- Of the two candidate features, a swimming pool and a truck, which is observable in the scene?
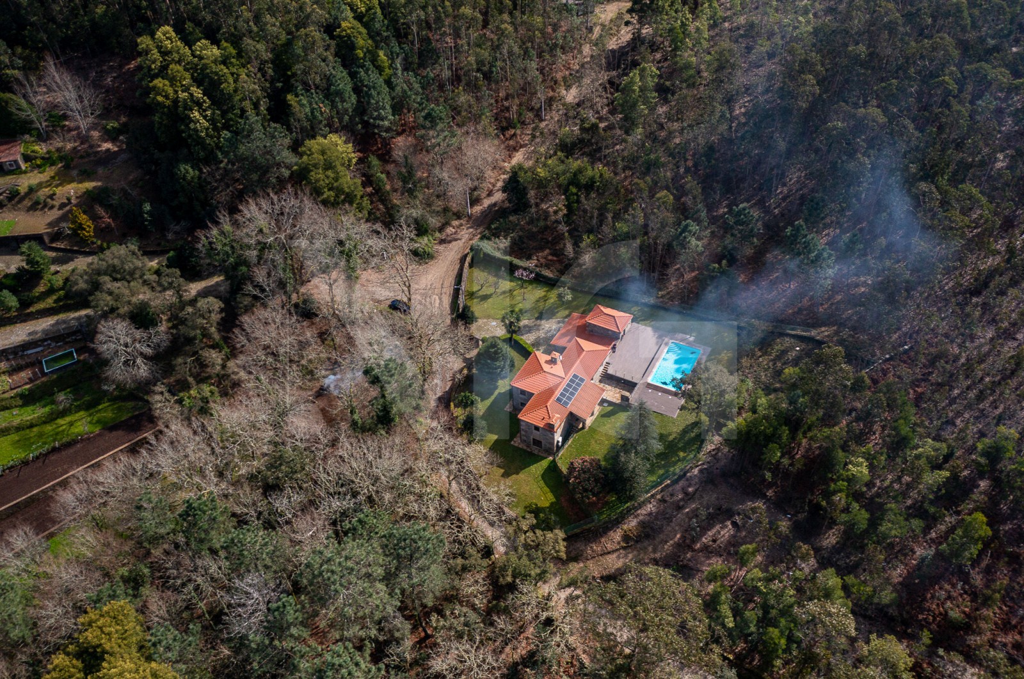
swimming pool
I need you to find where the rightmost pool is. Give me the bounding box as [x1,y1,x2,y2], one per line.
[646,339,702,397]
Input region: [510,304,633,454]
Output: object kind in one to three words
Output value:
house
